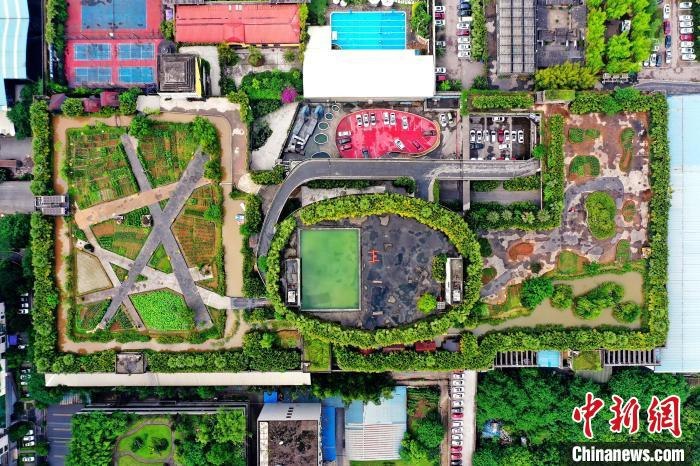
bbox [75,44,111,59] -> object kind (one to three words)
sports court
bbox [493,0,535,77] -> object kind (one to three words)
shed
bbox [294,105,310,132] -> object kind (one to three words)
vehicle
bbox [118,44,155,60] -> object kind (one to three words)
sports court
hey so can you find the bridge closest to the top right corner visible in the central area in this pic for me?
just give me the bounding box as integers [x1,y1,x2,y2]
[253,158,541,276]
